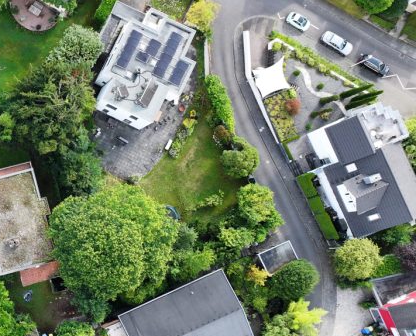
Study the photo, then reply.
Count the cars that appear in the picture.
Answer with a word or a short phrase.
3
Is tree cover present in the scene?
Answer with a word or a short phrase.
Yes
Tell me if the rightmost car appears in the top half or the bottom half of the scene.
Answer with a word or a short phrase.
top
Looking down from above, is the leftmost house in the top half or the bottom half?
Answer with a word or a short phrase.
bottom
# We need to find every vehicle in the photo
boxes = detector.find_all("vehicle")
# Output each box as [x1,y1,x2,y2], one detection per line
[317,29,355,55]
[356,53,391,78]
[284,12,312,33]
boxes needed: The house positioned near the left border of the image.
[0,163,59,287]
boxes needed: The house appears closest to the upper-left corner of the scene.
[96,1,196,129]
